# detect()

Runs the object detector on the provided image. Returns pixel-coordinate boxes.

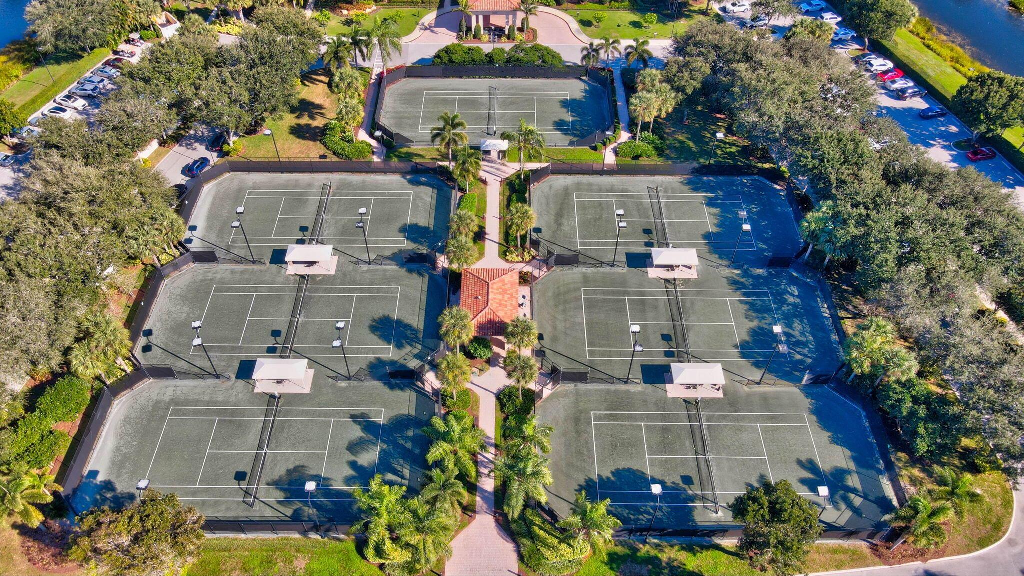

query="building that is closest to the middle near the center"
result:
[459,268,519,350]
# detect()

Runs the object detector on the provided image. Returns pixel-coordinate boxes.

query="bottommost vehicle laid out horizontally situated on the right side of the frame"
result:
[964,147,997,163]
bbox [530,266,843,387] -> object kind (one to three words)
tennis court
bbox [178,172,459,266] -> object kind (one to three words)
tennis court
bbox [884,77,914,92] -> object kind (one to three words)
car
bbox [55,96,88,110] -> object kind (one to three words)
car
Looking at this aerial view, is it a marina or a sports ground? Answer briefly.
sports ground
